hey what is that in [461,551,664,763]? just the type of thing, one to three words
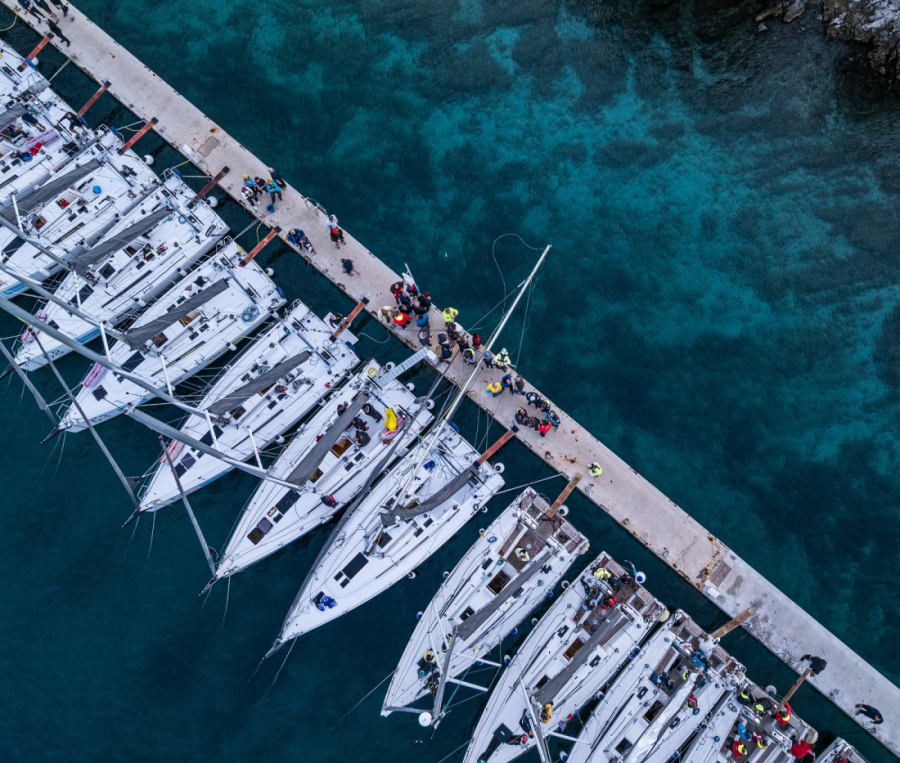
boat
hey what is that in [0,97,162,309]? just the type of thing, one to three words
boat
